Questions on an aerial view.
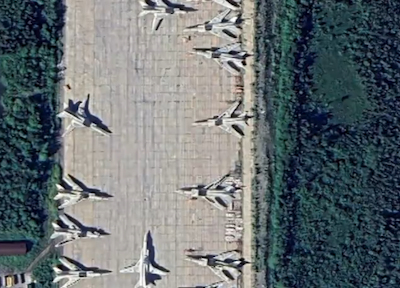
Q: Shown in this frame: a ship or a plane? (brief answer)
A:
plane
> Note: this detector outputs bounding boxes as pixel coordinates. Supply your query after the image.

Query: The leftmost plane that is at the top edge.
[140,0,193,31]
